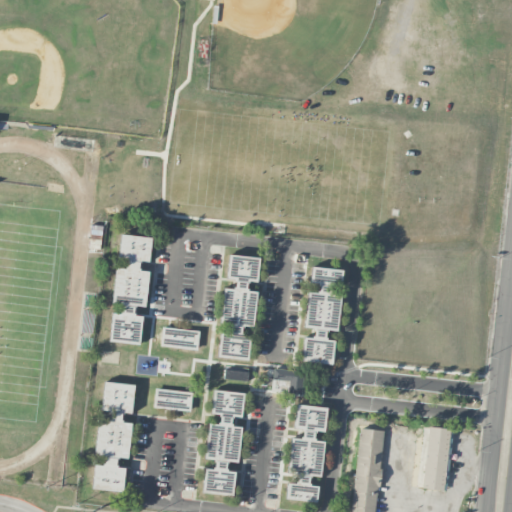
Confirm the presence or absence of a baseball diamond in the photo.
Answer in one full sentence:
Yes, a baseball diamond appears in the view.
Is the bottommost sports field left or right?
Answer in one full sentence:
You can find the bottommost sports field on the left side of the picture.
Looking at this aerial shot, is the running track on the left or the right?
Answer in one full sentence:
The running track sits on the left side.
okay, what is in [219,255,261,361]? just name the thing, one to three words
building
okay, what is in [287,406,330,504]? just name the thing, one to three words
building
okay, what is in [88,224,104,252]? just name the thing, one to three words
shed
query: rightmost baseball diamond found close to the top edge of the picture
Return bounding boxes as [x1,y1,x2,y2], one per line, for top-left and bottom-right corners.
[209,0,378,100]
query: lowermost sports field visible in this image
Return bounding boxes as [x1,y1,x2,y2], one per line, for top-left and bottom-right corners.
[0,203,62,424]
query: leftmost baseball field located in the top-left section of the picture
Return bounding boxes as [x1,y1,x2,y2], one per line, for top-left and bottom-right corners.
[0,28,65,110]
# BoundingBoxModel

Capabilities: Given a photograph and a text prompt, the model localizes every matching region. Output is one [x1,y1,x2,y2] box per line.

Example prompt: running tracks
[0,137,99,486]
